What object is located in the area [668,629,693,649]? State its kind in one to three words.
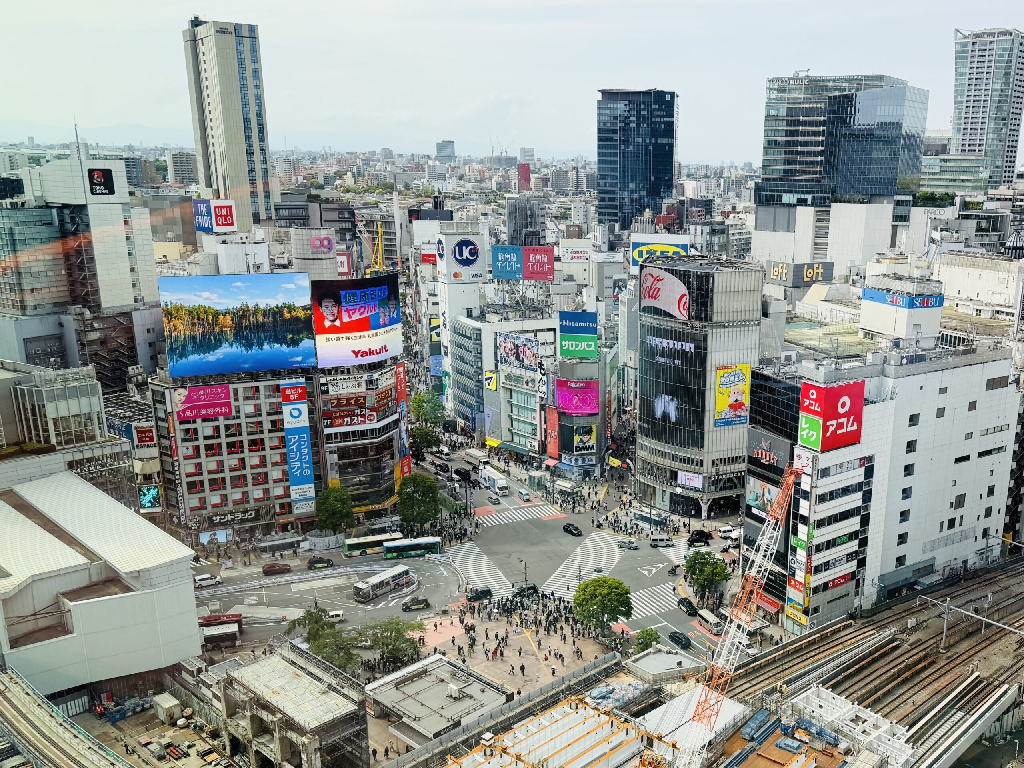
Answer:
car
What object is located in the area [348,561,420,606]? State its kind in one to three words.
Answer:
bus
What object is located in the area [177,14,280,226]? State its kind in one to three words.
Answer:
building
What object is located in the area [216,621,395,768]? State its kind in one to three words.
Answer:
building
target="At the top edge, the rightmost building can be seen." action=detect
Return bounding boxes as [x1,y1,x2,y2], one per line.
[946,19,1024,255]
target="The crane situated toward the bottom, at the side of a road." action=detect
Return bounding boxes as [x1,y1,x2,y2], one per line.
[601,443,824,768]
